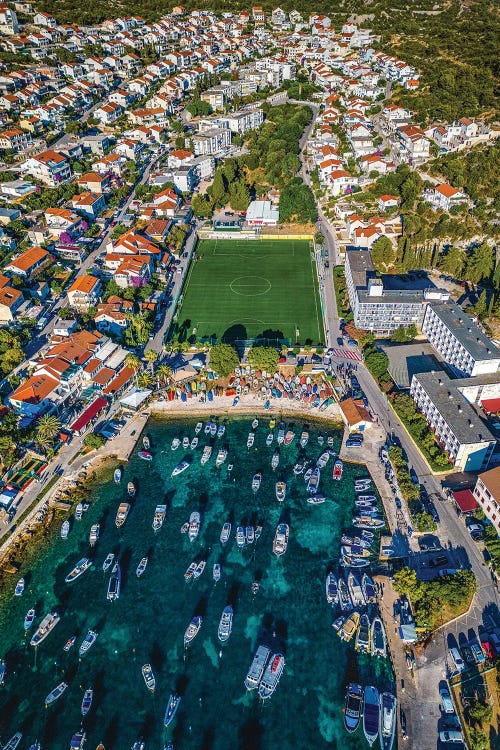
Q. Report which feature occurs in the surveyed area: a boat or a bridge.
boat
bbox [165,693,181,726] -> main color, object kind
blue boat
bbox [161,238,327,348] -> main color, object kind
green soccer field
